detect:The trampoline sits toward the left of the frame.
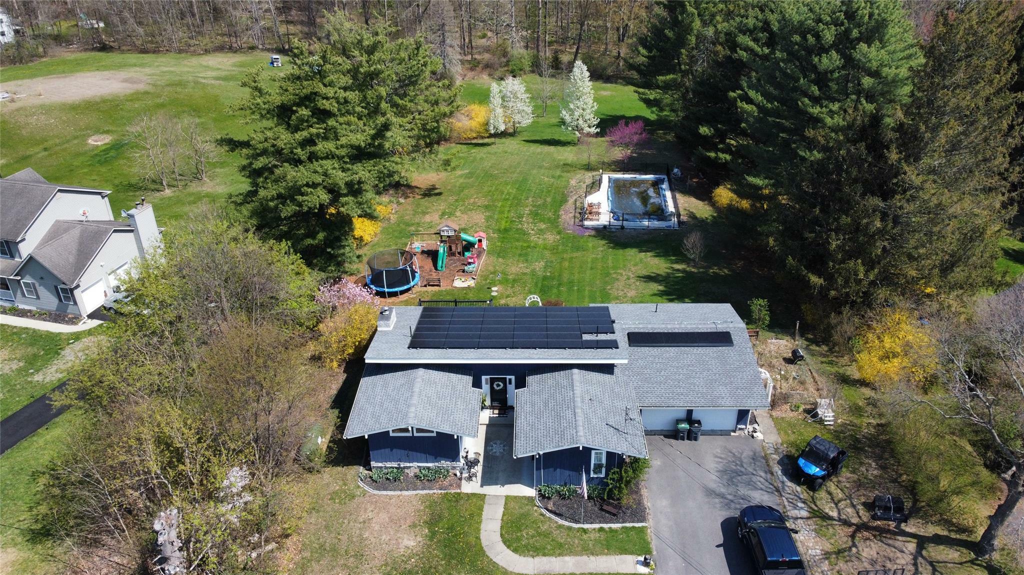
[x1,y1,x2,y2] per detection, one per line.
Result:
[360,247,420,304]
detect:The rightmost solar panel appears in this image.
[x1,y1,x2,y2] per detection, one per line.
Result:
[626,329,736,347]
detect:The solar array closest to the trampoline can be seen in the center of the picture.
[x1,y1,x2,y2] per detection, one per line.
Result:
[408,306,618,350]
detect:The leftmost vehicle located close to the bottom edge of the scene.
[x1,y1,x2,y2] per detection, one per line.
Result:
[734,505,805,575]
